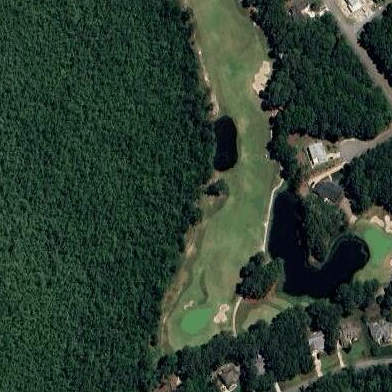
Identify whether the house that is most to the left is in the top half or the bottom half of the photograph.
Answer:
bottom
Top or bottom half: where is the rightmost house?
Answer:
bottom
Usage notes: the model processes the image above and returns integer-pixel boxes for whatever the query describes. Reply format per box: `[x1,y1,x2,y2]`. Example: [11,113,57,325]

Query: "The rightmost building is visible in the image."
[370,321,392,343]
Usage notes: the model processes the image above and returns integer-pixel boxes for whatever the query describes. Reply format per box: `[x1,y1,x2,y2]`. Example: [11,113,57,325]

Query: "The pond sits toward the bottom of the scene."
[267,188,370,298]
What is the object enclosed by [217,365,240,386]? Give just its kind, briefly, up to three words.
house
